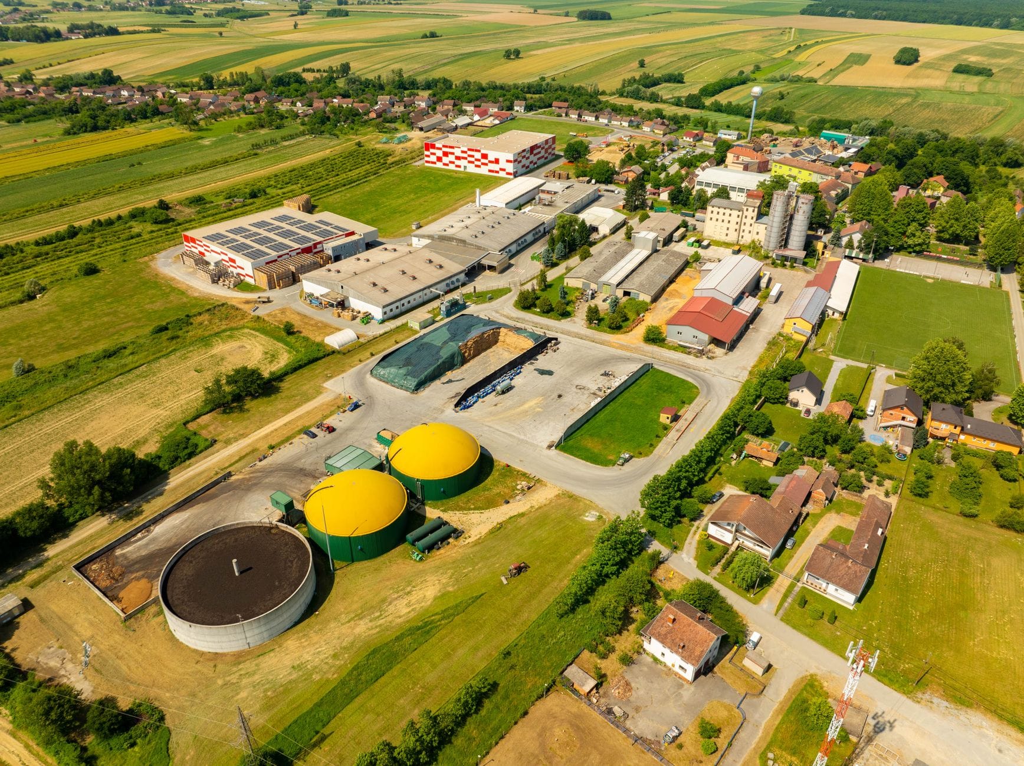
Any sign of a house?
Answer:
Yes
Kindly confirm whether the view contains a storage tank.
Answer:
Yes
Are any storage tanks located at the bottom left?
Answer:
Yes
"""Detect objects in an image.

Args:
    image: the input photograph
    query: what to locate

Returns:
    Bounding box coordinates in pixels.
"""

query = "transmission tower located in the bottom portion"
[222,707,260,766]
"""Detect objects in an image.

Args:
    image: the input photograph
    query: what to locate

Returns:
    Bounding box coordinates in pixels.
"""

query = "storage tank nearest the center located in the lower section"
[388,422,482,503]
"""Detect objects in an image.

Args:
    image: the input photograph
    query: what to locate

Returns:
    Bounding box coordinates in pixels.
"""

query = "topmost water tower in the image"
[747,85,764,140]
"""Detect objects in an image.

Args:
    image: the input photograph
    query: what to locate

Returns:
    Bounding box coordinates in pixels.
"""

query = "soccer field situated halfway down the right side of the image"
[832,264,1024,396]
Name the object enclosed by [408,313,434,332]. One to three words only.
building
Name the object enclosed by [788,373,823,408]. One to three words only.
house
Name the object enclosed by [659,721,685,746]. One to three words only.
car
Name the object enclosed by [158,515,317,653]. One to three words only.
storage tank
